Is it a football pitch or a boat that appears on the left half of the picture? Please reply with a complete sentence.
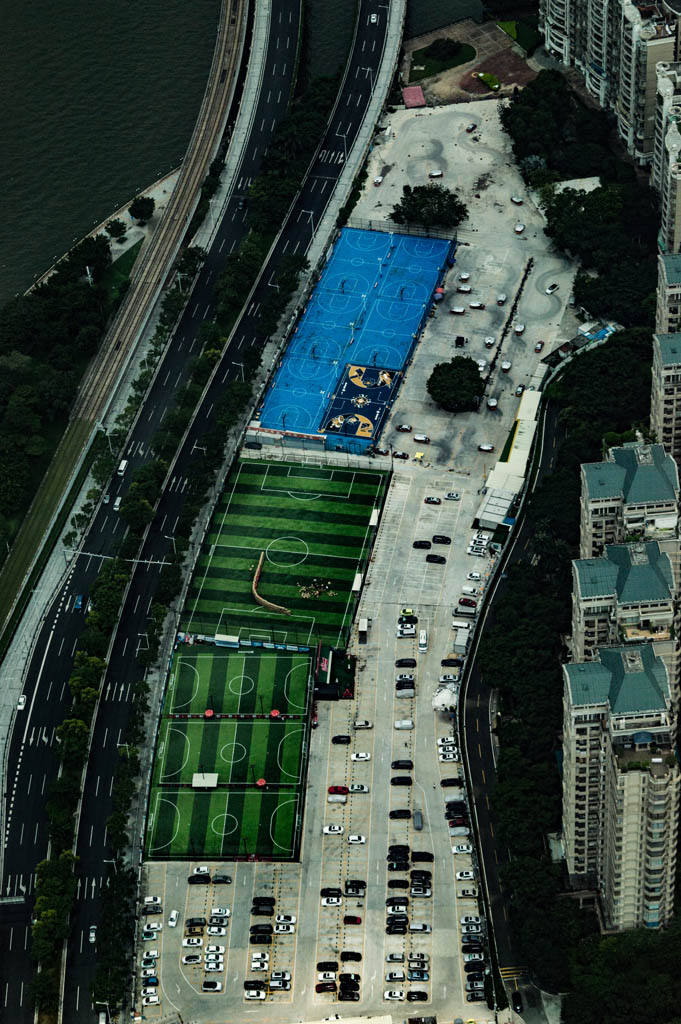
Visible on the left half of the picture is a football pitch.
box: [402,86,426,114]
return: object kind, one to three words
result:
shed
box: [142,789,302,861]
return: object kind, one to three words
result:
soccer field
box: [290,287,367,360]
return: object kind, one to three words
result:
basketball court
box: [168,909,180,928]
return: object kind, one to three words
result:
vehicle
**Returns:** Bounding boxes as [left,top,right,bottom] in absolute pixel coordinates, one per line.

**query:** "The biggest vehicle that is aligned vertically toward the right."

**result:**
[454,629,467,655]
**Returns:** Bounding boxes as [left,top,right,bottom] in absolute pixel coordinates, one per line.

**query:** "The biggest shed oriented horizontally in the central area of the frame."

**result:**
[244,429,327,453]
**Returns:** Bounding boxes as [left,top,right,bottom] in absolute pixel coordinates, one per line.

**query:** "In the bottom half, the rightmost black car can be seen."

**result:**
[511,991,523,1011]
